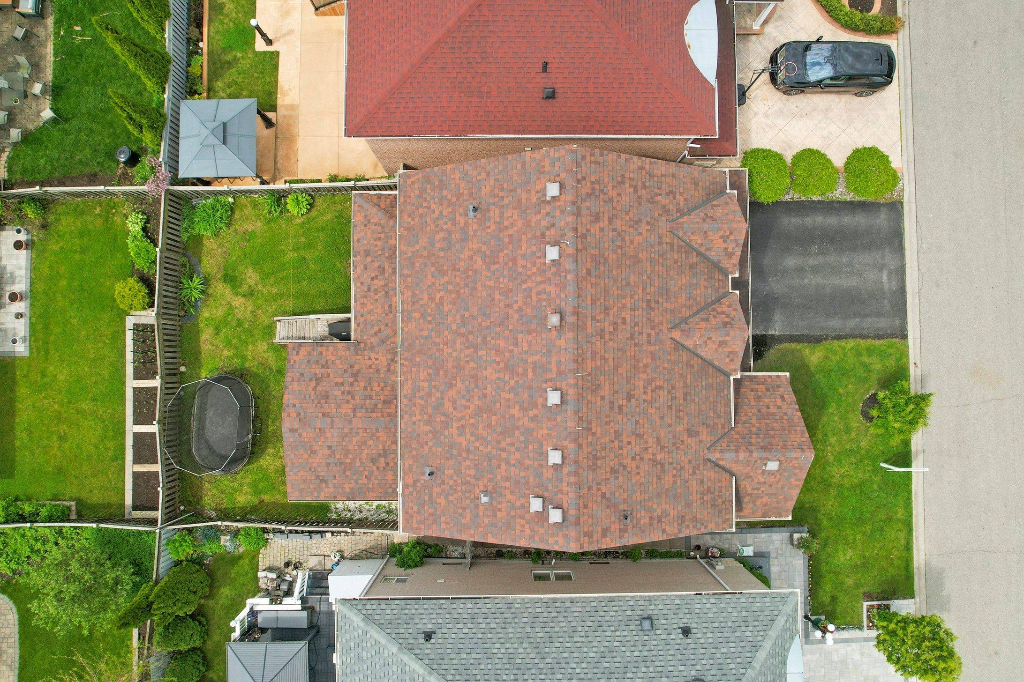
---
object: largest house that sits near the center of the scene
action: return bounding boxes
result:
[282,145,815,552]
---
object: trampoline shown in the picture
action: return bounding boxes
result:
[165,370,266,476]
